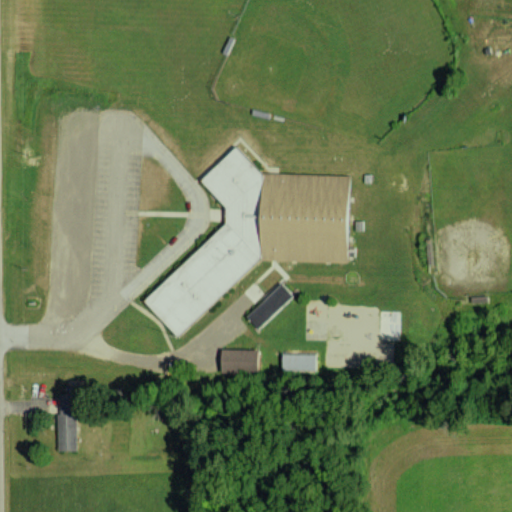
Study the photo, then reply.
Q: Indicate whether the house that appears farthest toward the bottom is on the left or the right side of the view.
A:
left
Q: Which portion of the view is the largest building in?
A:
center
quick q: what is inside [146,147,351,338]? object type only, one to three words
building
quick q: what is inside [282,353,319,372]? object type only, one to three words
shed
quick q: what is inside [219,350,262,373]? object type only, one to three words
shed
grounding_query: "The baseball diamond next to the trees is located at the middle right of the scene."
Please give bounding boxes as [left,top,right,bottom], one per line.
[428,144,512,298]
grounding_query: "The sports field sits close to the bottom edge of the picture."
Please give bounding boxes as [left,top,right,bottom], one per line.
[374,425,512,512]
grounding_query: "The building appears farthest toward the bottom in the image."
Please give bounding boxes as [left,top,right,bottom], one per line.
[58,413,78,452]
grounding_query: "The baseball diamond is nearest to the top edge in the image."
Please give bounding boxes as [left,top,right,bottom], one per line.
[214,0,452,139]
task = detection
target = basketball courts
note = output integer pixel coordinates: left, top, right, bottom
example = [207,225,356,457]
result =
[380,311,402,363]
